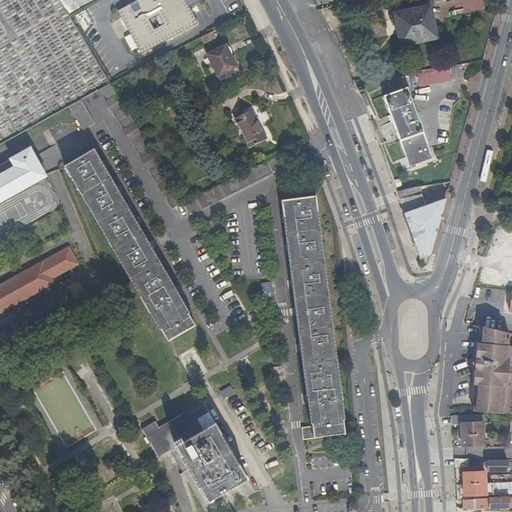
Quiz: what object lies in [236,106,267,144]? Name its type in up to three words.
house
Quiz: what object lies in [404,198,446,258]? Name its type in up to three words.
building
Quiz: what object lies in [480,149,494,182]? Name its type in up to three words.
vehicle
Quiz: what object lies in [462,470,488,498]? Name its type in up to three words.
house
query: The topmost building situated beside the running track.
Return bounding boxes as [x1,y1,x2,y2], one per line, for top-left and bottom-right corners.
[0,146,48,202]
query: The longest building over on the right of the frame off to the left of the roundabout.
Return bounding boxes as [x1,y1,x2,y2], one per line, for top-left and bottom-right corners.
[282,196,346,438]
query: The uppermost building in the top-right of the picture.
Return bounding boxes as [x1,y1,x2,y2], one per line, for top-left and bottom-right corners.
[392,4,439,44]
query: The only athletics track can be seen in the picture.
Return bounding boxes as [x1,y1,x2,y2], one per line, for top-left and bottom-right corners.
[0,178,61,238]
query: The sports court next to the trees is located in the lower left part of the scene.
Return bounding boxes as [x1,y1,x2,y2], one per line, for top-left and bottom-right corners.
[34,371,96,448]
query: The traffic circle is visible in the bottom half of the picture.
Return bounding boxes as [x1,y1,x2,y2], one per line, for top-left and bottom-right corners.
[397,298,430,361]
